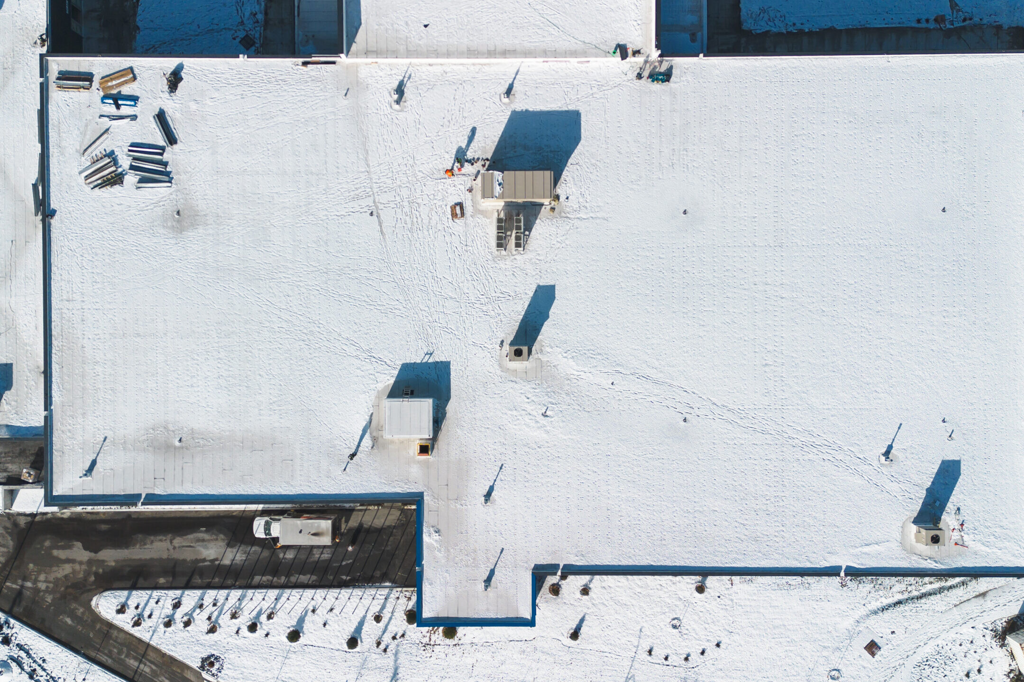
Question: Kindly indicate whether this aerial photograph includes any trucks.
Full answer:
Yes, a truck can be made out from above.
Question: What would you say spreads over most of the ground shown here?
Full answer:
The scene is dominated by buildings.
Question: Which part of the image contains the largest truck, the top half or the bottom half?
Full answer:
The largest truck is in the bottom half of the image.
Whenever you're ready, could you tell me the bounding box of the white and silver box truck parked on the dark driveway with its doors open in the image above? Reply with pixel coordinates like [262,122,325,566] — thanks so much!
[254,510,344,549]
